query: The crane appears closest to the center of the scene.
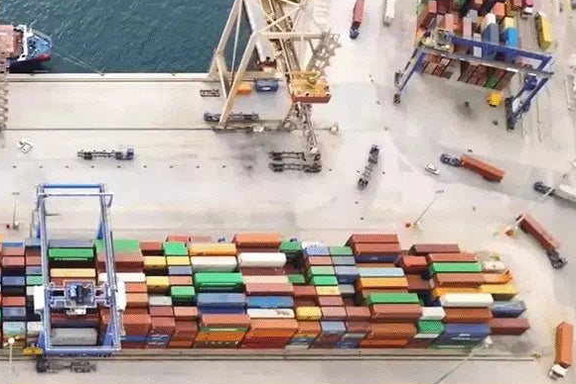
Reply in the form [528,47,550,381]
[197,0,346,165]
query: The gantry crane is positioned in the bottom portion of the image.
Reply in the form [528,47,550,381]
[30,185,130,357]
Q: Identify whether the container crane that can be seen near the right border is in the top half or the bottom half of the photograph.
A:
top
